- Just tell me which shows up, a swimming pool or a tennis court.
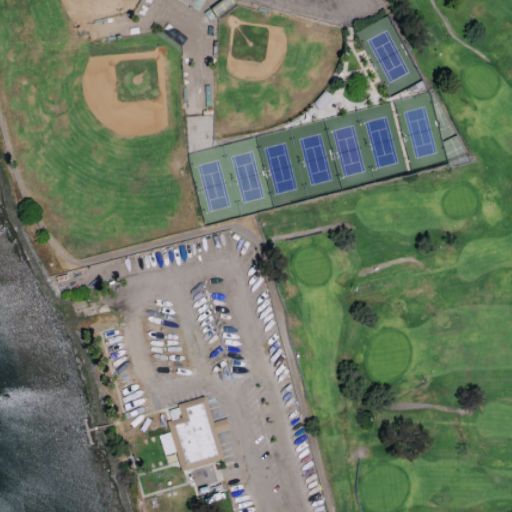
tennis court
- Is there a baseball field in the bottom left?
No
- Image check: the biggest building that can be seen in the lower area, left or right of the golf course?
to the left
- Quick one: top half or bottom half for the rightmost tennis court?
top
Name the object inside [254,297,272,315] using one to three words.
boat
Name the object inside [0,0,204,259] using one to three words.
baseball field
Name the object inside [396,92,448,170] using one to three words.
tennis court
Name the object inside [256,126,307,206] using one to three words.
tennis court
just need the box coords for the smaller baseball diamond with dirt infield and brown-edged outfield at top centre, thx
[214,7,342,140]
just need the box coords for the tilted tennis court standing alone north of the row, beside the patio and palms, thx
[356,16,421,97]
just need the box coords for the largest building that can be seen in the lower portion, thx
[168,396,230,470]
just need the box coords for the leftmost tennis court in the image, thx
[189,144,240,224]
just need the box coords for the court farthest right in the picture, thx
[432,92,468,163]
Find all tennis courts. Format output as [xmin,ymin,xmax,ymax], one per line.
[432,92,468,163]
[325,108,375,188]
[189,144,240,224]
[223,135,274,214]
[291,118,341,196]
[256,126,307,206]
[360,102,408,180]
[356,16,421,97]
[396,92,448,170]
